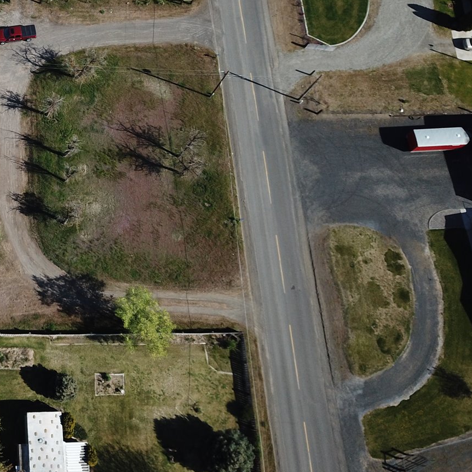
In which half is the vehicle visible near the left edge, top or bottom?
top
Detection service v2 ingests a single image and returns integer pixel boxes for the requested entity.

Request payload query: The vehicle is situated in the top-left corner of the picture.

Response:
[0,25,37,45]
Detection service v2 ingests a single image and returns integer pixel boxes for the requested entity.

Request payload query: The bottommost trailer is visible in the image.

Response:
[406,127,471,152]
